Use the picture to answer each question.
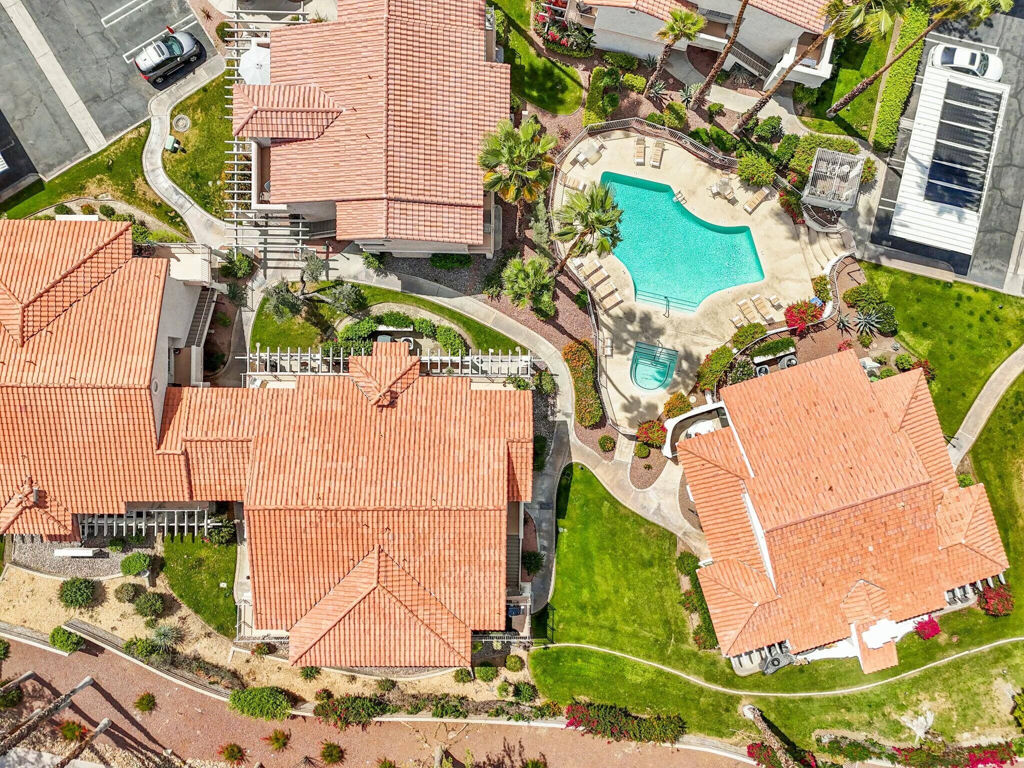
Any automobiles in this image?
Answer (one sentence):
Yes, looking at the shot, I can spot an automobile.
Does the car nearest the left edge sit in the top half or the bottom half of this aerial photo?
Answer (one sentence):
The car nearest the left edge is in the top half of the image.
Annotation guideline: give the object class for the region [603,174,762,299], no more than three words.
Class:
swimming pool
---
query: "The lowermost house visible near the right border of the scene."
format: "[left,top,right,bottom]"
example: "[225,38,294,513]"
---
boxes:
[655,349,1012,673]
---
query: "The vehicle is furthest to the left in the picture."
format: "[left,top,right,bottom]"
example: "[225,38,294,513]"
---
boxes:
[127,26,202,82]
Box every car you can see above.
[920,42,1000,81]
[127,26,202,82]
